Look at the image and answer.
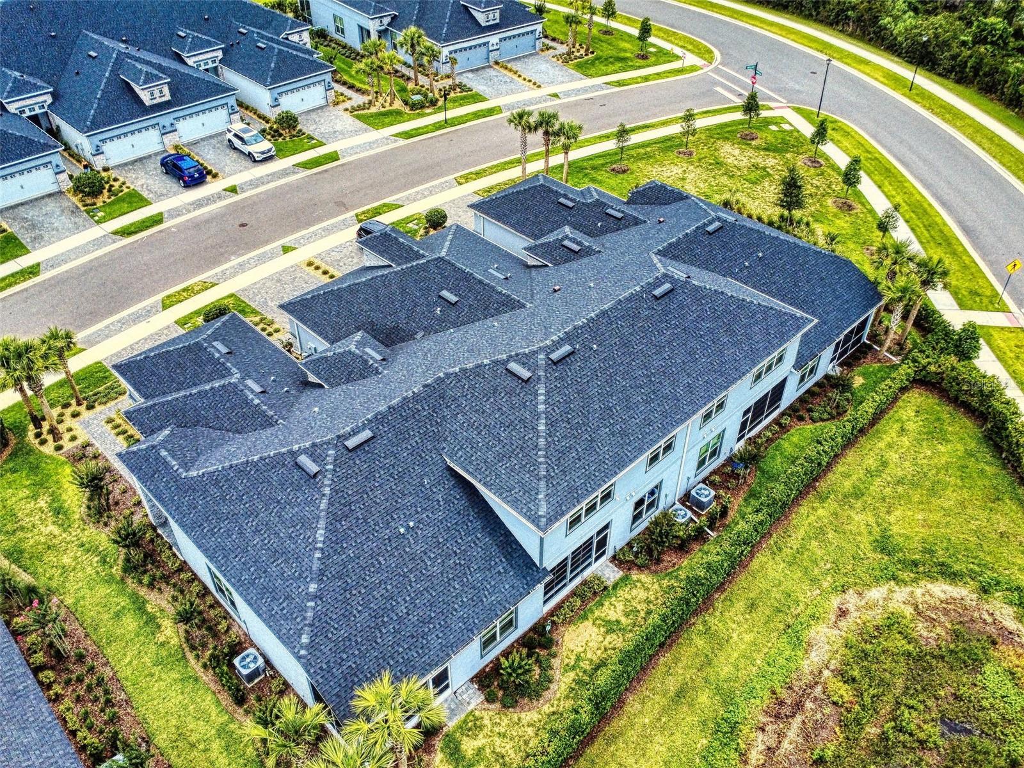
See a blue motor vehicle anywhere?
Yes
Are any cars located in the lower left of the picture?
No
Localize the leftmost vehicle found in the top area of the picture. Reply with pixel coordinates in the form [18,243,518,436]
[156,153,208,187]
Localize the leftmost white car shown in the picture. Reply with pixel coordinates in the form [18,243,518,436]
[223,121,277,163]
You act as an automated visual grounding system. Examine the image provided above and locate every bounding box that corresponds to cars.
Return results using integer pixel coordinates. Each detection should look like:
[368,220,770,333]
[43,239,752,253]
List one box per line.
[357,215,404,239]
[223,121,277,163]
[156,153,208,187]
